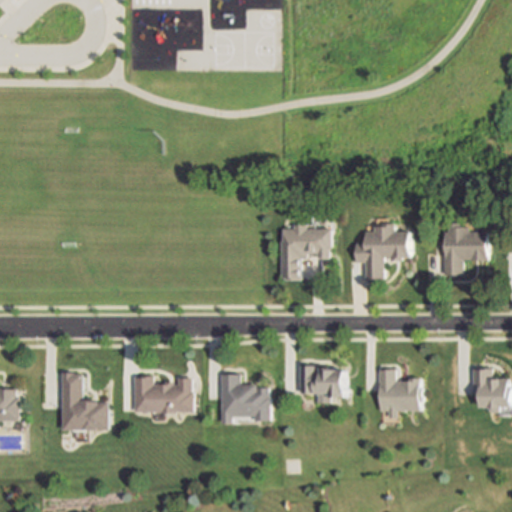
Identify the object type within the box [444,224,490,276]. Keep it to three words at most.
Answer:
house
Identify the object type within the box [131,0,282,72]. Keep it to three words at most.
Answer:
playground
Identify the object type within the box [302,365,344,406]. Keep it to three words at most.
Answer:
house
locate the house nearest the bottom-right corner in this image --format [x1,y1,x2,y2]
[473,368,512,414]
